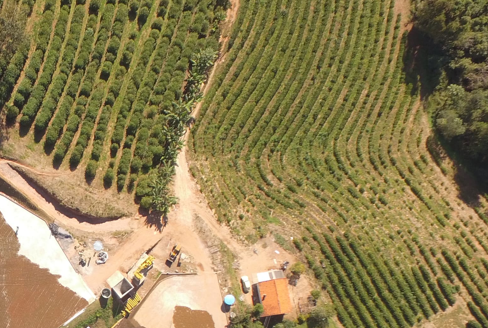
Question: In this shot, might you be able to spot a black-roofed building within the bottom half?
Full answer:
No, within the bottom half there is no black-roofed building.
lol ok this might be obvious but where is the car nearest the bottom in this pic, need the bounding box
[240,275,253,294]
